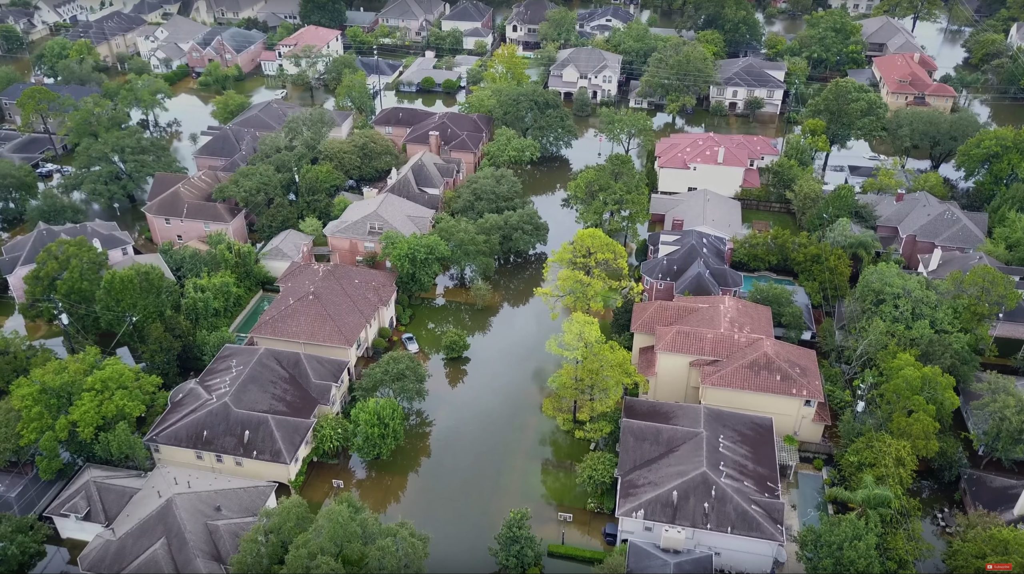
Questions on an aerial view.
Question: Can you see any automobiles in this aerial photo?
Yes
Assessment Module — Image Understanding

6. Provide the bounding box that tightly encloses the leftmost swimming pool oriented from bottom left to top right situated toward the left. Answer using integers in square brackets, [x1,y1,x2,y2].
[231,292,276,343]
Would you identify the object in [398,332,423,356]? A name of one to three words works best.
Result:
car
